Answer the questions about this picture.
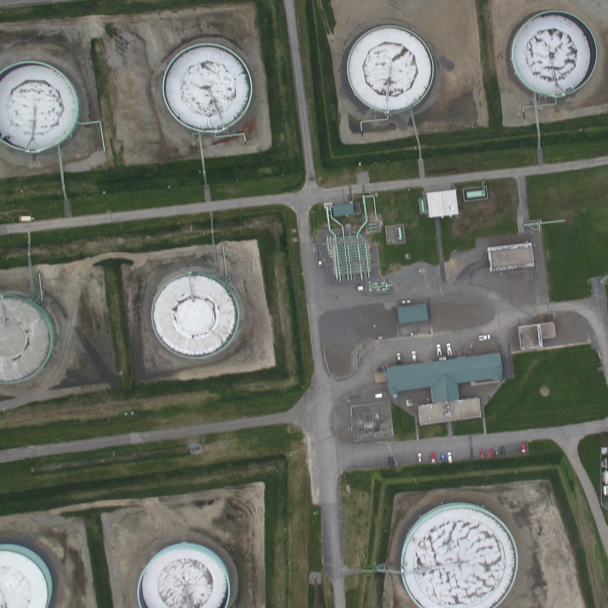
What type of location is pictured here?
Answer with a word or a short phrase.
industrial area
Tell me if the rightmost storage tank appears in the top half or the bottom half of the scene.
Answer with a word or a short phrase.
top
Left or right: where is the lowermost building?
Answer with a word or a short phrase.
right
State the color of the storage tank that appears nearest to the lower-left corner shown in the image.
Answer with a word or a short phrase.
white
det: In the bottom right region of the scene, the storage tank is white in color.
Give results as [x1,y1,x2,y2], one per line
[399,500,518,608]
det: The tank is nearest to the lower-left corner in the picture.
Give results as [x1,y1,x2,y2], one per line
[0,543,58,608]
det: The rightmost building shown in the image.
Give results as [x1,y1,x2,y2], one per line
[518,321,556,349]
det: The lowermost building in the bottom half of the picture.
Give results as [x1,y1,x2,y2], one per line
[418,396,481,426]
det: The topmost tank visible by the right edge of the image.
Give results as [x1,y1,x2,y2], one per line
[506,10,596,101]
